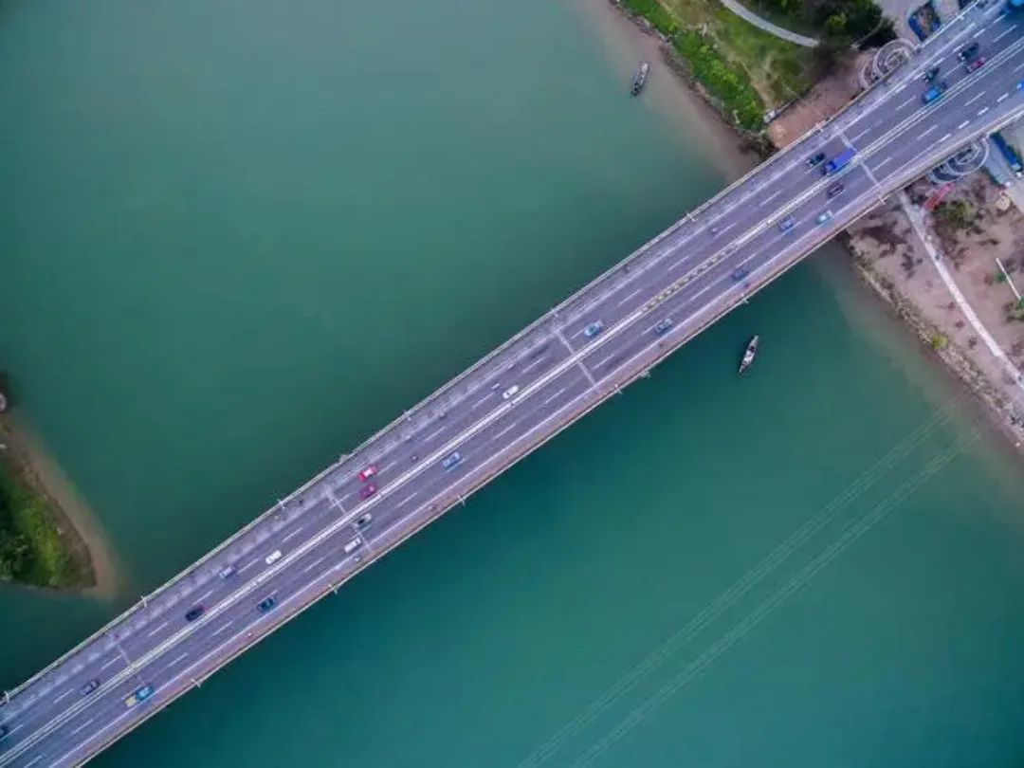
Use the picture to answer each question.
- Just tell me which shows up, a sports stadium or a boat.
boat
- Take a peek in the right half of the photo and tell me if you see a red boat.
No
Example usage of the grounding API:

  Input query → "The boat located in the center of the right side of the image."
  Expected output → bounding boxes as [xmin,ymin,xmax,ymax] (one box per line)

[737,333,759,375]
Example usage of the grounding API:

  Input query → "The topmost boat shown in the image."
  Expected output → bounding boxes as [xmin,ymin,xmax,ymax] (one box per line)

[633,61,650,97]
